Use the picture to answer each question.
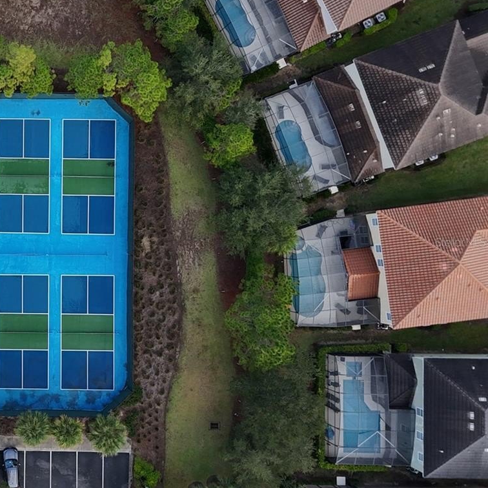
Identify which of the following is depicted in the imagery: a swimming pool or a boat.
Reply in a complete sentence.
Of the two, only a swimming pool appears.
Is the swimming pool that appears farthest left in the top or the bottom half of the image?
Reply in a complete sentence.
Seen from above, the swimming pool that appears farthest left lies in the top half of the view.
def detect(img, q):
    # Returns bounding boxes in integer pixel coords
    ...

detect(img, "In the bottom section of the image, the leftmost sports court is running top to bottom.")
[0,274,49,389]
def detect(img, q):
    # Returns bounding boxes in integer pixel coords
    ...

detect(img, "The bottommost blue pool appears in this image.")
[342,378,382,455]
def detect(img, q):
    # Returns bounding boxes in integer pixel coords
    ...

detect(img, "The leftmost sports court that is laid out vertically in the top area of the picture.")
[0,118,50,234]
